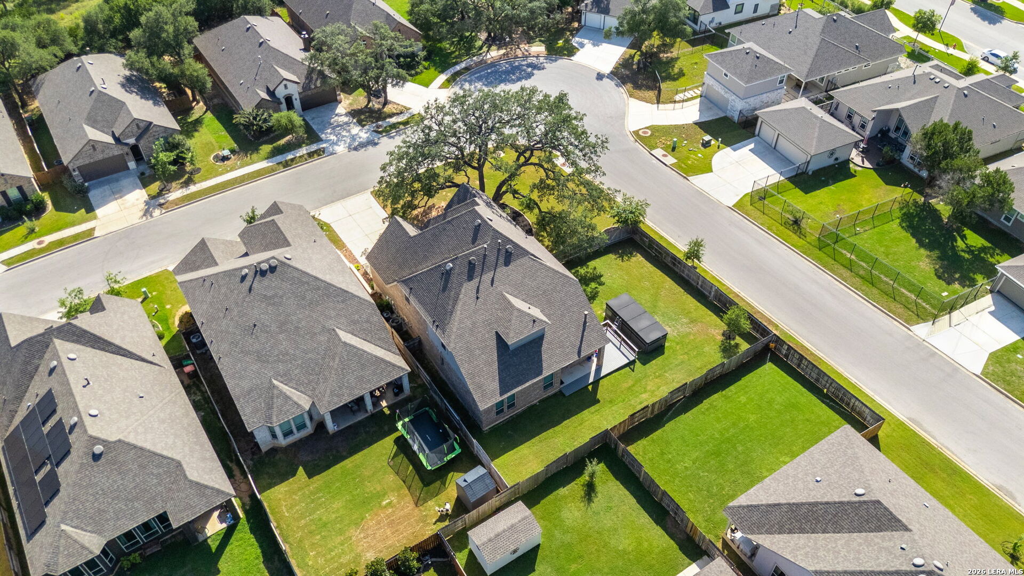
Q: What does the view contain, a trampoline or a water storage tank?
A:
trampoline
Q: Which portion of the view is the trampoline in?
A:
bottom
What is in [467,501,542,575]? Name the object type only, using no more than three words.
shed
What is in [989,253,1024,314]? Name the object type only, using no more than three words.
building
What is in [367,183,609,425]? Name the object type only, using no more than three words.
house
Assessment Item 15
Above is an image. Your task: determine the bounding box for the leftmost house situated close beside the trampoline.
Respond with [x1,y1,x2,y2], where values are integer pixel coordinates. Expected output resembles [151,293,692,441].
[172,201,410,447]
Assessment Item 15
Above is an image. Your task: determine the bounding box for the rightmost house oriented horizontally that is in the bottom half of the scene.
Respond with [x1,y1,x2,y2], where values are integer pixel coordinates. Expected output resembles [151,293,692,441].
[721,424,1024,576]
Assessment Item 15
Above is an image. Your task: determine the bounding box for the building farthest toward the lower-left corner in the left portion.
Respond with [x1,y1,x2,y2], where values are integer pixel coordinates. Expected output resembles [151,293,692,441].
[0,293,244,576]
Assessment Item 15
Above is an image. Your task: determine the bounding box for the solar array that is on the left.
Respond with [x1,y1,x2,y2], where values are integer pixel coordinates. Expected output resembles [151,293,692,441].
[4,389,70,535]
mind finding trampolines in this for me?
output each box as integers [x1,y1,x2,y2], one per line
[388,393,466,473]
